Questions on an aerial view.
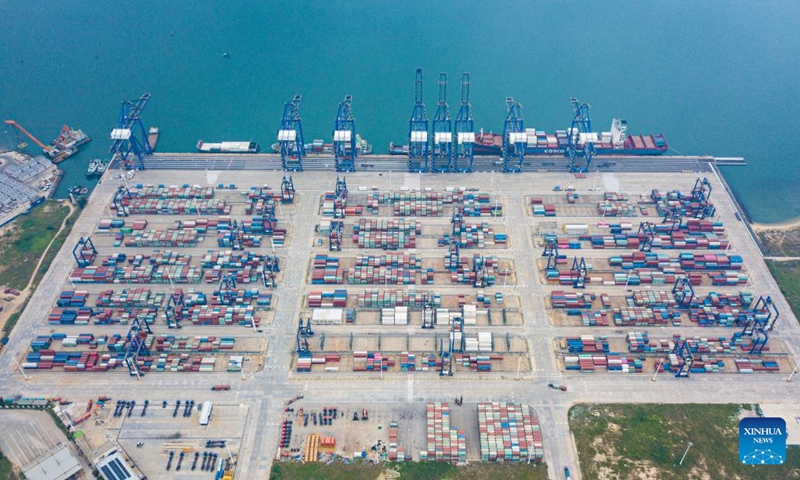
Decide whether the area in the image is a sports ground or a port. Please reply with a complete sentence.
This image shows a port.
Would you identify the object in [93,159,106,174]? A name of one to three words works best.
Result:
boat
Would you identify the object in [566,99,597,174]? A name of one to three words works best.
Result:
container crane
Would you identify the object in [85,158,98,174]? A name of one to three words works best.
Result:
boat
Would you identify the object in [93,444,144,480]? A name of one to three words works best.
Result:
building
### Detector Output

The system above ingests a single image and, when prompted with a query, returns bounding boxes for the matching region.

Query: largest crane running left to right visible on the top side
[5,121,89,161]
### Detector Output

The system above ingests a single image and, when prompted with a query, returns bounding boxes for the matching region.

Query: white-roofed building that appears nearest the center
[312,303,343,324]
